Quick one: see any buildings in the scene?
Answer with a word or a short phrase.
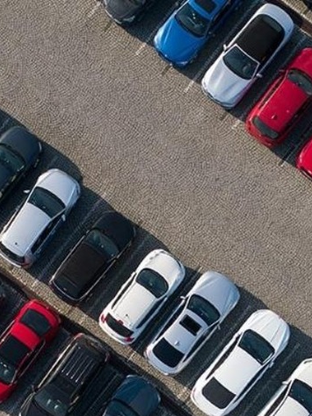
No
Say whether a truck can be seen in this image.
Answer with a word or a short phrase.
No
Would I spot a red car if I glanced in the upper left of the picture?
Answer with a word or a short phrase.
No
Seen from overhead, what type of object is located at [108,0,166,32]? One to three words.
car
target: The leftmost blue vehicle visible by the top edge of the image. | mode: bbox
[157,0,242,71]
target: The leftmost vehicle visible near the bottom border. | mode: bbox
[0,299,63,404]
